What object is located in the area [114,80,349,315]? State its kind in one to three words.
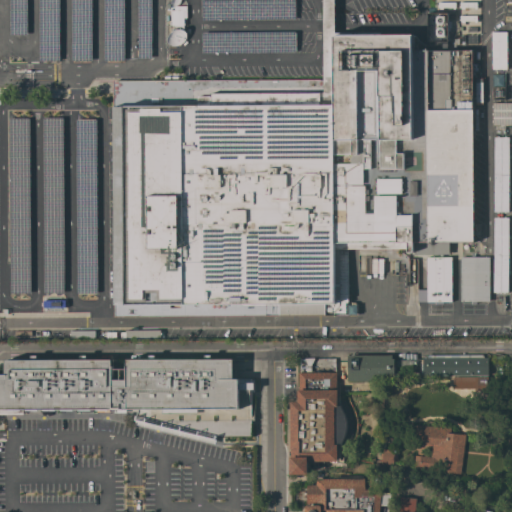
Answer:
building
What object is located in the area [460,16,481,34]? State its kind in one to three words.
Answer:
shed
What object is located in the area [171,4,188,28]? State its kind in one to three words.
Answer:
tent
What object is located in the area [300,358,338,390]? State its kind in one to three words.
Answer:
house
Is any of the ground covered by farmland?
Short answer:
No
